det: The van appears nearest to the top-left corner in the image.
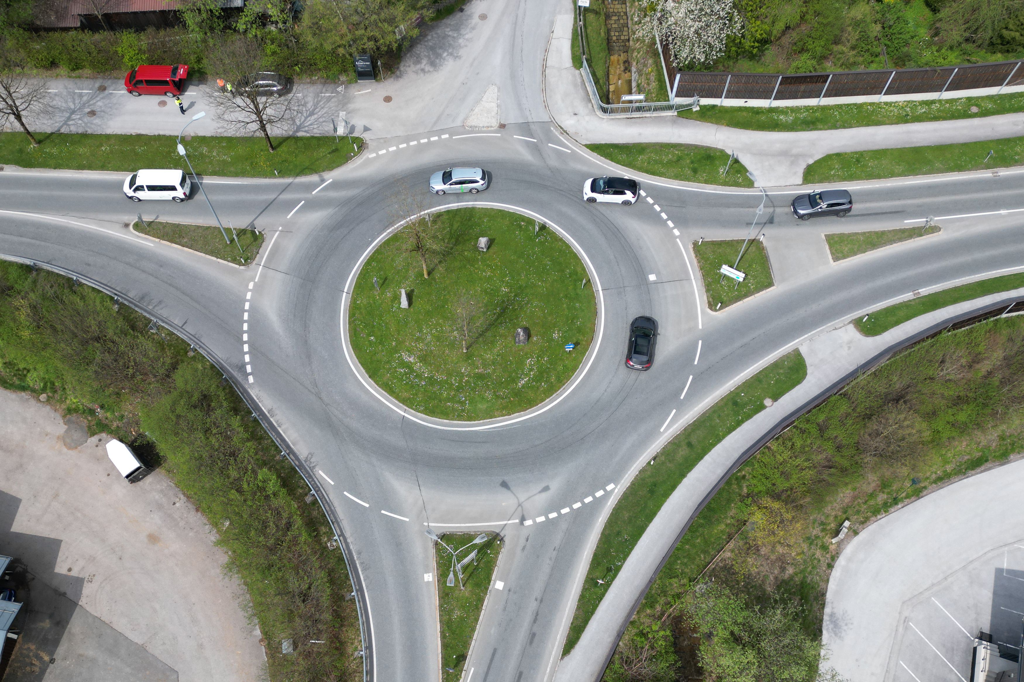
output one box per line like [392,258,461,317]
[122,65,191,98]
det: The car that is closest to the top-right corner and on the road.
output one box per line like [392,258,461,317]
[792,188,858,221]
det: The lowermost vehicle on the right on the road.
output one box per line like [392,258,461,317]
[625,313,660,371]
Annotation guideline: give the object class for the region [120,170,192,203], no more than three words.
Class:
van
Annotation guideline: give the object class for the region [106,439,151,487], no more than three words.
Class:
trailer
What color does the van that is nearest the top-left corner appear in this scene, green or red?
red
